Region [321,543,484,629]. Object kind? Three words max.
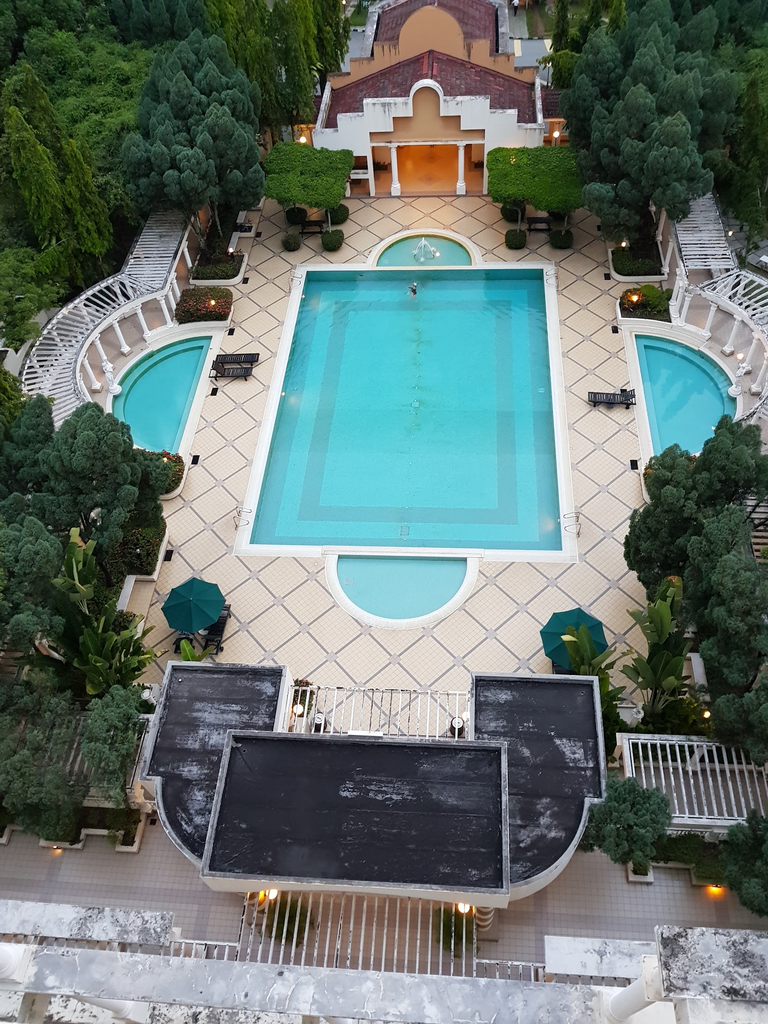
swimming pool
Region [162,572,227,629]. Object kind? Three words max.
umbrella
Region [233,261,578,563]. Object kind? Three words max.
swimming pool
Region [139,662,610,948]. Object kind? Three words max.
building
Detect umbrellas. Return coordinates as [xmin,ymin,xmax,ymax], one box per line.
[538,605,605,667]
[162,572,227,629]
